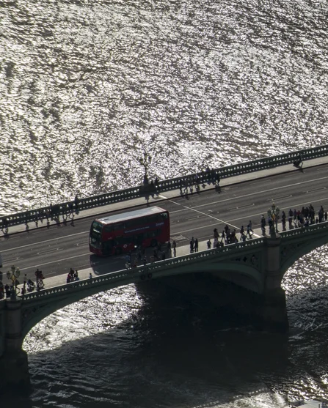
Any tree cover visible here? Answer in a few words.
No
